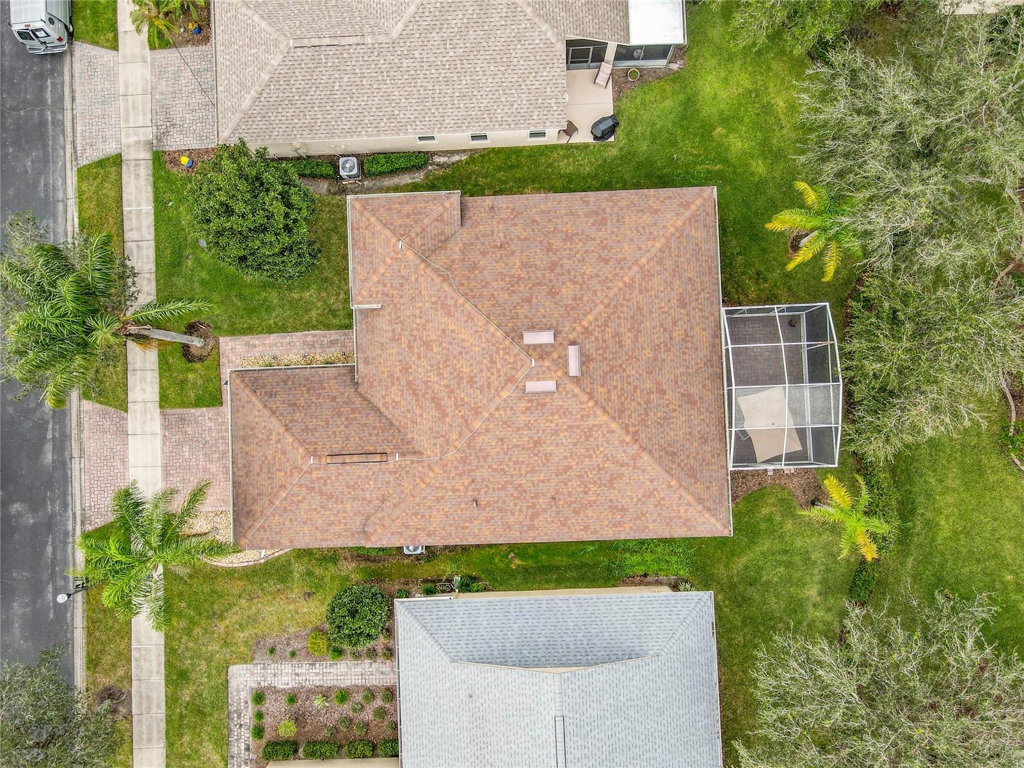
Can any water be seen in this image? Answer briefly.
No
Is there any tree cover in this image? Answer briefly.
Yes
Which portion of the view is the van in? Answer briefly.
top left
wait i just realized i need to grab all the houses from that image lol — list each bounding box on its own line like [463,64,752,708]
[269,586,721,768]
[226,186,735,550]
[211,0,686,157]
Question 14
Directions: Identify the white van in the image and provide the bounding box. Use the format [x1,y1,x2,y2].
[2,0,72,54]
